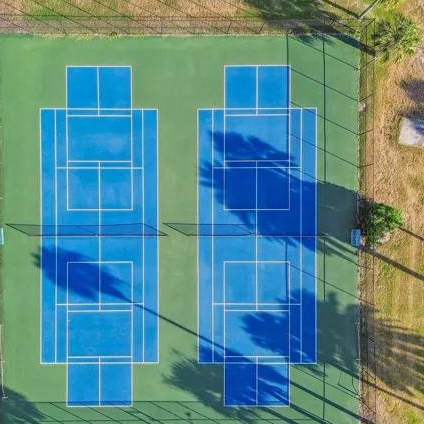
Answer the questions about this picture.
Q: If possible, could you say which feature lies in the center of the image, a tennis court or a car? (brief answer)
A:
tennis court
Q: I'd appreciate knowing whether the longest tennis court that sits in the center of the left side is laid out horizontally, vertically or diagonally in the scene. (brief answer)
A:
vertically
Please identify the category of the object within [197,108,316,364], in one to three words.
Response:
tennis court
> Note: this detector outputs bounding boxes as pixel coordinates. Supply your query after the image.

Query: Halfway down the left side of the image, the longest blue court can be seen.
[39,108,158,364]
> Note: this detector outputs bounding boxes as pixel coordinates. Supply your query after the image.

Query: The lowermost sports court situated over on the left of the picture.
[66,262,132,407]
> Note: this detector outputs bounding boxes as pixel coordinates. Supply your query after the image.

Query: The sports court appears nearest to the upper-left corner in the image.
[66,66,132,211]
